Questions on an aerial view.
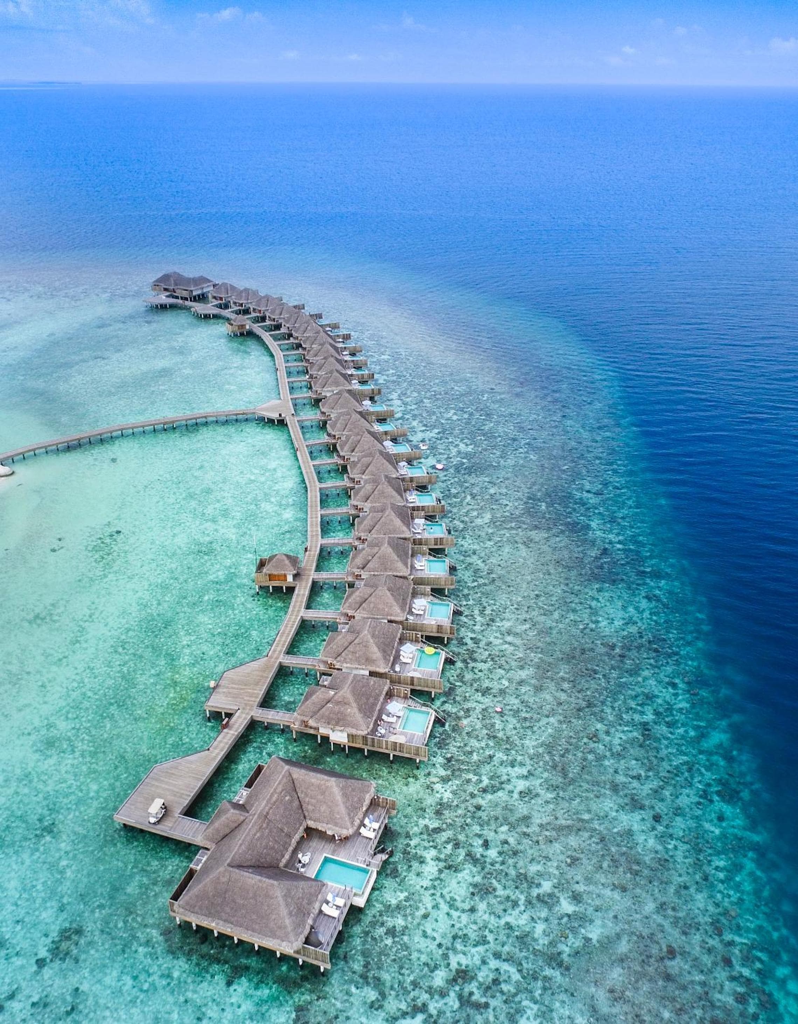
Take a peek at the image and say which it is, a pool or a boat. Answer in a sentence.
The one in the frame is a pool.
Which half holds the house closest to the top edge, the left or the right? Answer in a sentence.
The house closest to the top edge sits on the left side.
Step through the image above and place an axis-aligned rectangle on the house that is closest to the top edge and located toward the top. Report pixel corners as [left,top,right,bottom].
[158,269,219,302]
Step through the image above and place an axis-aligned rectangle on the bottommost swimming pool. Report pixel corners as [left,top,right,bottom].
[315,854,370,896]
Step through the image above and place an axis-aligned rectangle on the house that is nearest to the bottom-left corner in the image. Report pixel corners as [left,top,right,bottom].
[167,756,396,979]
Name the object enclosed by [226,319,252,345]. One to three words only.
shed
